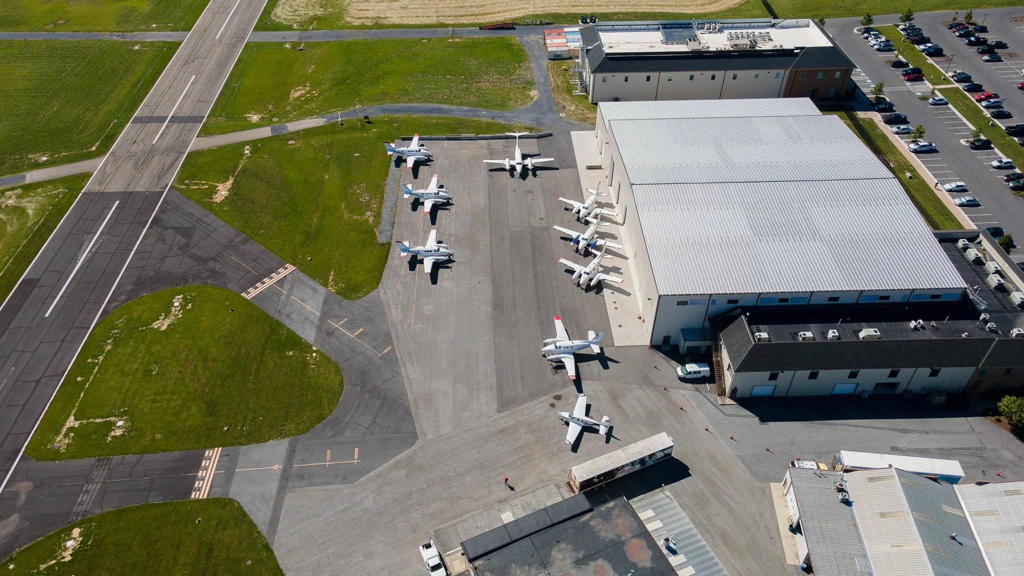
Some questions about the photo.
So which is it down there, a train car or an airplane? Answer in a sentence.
I can see an airplane in this picture.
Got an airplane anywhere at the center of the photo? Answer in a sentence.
Yes, at the center of the photo there is an airplane.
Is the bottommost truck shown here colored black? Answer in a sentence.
No, the bottommost truck is actually white.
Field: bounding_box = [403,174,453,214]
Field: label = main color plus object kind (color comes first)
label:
white airplane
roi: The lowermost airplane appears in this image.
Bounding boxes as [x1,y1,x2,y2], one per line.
[555,393,611,443]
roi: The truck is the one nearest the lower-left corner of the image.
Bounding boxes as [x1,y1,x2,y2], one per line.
[416,538,449,576]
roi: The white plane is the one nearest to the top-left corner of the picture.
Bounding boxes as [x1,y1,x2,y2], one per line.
[387,134,433,168]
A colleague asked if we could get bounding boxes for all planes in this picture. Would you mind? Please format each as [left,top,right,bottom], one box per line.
[399,227,455,276]
[551,212,624,254]
[403,174,453,214]
[537,315,602,380]
[555,393,611,443]
[482,134,556,176]
[553,182,621,222]
[387,134,433,168]
[553,244,630,290]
